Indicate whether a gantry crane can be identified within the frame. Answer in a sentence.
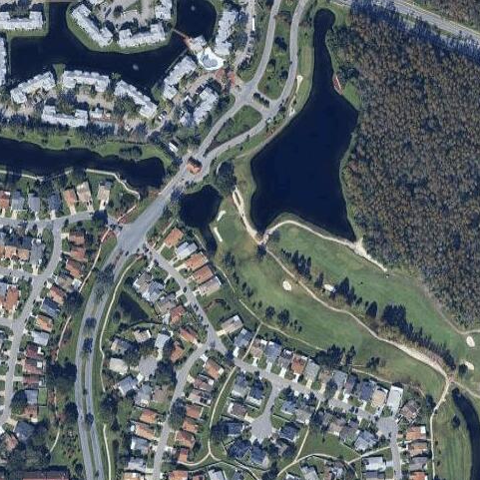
No, I can't see a single gantry crane in this photo.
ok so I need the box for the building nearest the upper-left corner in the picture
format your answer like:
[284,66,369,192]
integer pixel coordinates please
[0,12,43,28]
